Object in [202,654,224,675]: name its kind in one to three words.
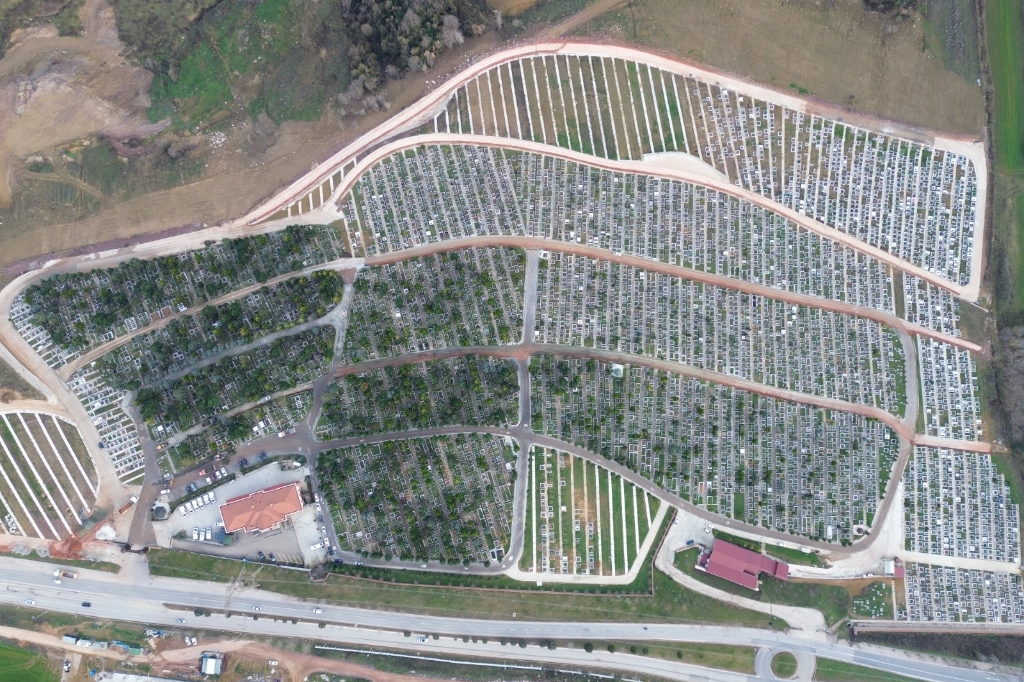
building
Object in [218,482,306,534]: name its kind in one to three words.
building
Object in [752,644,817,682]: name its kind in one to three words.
roundabout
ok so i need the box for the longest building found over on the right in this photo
[694,536,789,592]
